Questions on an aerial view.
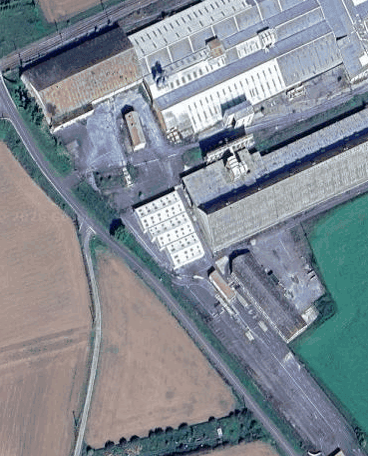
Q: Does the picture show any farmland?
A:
Yes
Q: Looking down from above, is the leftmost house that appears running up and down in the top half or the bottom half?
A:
top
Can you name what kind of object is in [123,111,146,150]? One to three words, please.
house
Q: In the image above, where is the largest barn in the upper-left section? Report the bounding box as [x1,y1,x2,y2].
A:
[20,24,143,130]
